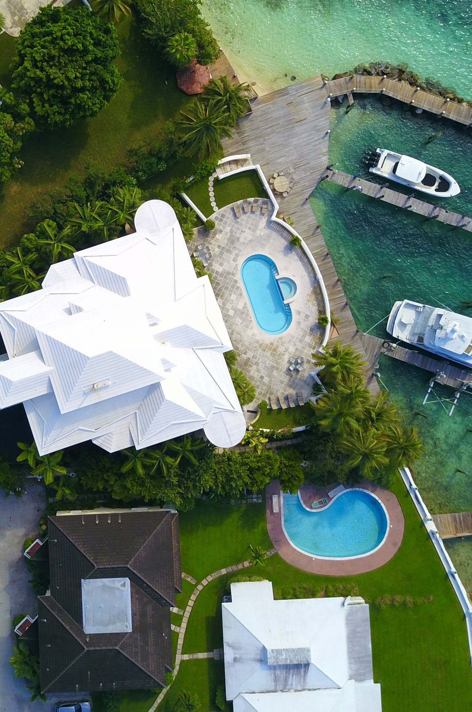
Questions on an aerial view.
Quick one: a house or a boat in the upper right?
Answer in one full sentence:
Looking in the upper right, you will find a boat.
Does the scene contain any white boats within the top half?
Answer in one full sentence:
Yes, a white boat shows up within the top half.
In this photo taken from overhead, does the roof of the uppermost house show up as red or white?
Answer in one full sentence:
In this view, the roof of the uppermost house is white.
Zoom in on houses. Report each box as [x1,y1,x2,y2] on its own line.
[222,579,373,700]
[0,198,248,457]
[14,507,182,695]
